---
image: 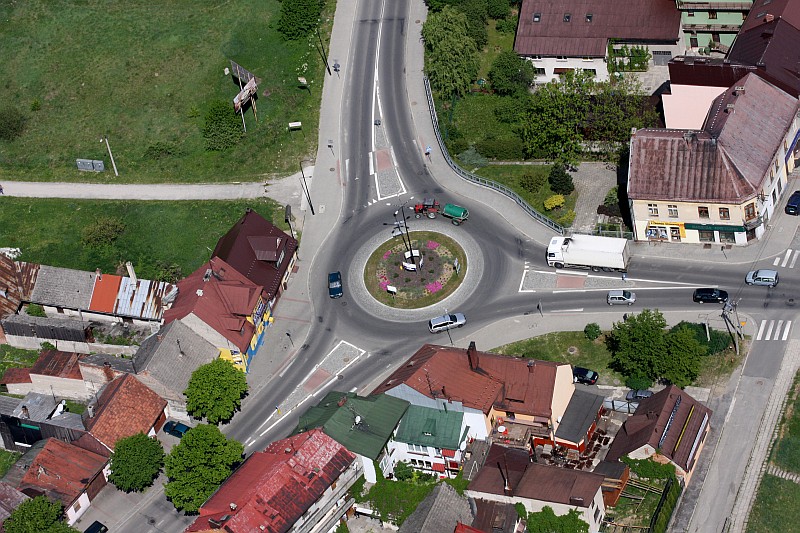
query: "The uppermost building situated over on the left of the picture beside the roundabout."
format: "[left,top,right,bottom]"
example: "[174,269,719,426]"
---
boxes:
[203,202,302,307]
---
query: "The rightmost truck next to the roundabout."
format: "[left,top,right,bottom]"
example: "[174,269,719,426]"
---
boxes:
[545,231,631,271]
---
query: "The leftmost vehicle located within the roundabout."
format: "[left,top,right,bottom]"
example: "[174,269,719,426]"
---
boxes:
[327,271,344,302]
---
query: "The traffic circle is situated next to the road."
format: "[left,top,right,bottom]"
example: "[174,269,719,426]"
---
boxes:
[310,184,535,361]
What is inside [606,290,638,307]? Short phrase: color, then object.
gray car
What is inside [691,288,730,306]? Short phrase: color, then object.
black car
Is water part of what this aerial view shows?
No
